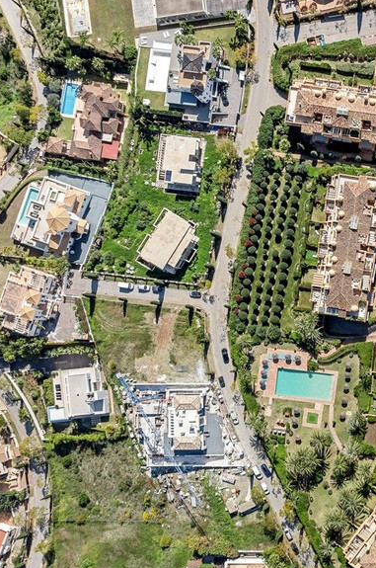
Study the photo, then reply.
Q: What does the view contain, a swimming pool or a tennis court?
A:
swimming pool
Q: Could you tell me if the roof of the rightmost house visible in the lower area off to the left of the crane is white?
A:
Yes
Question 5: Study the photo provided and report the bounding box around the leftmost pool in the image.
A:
[19,187,39,227]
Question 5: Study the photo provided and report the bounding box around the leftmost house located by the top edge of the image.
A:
[65,0,96,40]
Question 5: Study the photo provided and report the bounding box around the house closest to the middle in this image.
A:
[135,208,204,274]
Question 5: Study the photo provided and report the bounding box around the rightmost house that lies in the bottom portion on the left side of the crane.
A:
[52,366,116,427]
